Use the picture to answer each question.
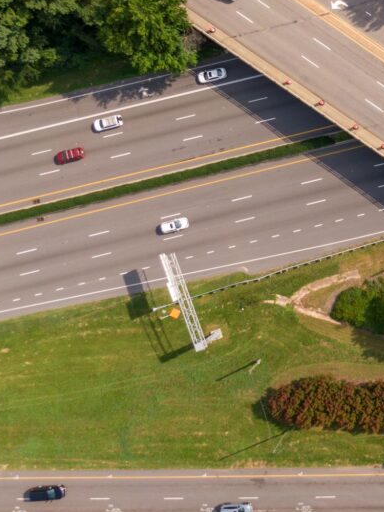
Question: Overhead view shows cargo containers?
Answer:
No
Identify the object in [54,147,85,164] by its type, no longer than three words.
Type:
car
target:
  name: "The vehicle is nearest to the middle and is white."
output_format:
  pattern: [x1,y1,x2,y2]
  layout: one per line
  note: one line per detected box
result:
[160,217,190,234]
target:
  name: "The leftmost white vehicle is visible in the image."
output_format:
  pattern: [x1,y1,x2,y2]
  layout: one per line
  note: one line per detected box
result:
[93,114,124,131]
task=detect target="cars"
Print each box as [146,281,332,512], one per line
[93,114,124,131]
[160,217,190,234]
[220,503,252,512]
[29,485,63,501]
[198,67,227,84]
[54,147,85,164]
